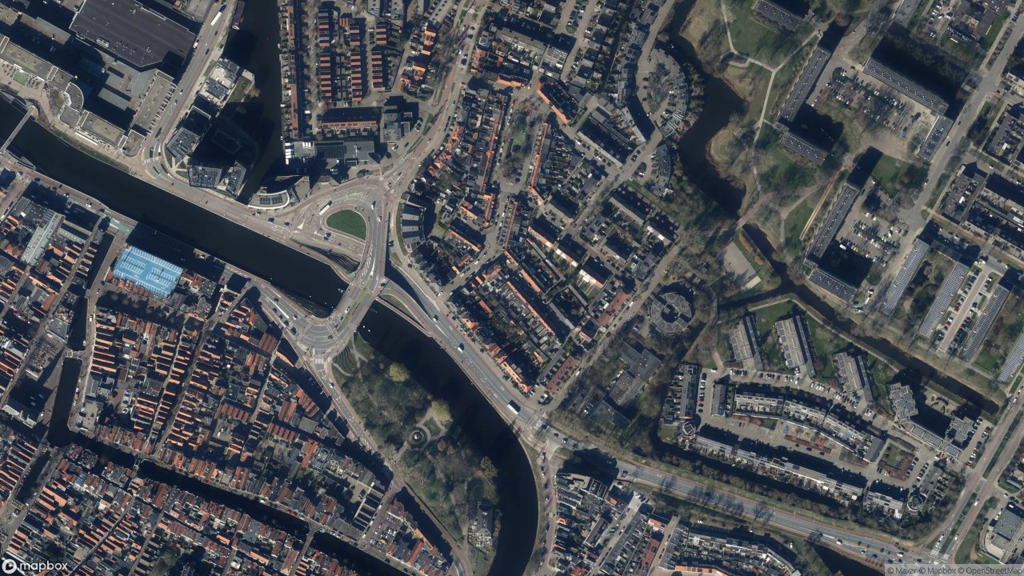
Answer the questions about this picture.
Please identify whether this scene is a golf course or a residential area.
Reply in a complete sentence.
The area seen from above is a residential area.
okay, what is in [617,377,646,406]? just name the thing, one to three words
building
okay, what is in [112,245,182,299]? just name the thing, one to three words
house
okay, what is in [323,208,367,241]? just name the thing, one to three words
roundabout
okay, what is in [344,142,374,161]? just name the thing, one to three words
building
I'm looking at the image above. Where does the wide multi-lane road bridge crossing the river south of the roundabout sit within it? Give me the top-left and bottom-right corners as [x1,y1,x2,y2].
[331,266,381,329]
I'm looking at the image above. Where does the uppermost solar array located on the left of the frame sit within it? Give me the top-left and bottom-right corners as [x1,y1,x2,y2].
[202,62,230,102]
